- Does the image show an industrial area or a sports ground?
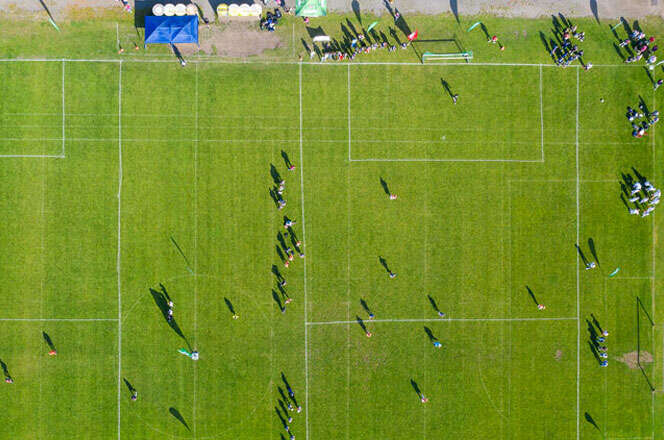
sports ground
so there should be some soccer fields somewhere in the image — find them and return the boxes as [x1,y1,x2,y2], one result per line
[0,60,120,440]
[0,60,653,440]
[300,62,578,440]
